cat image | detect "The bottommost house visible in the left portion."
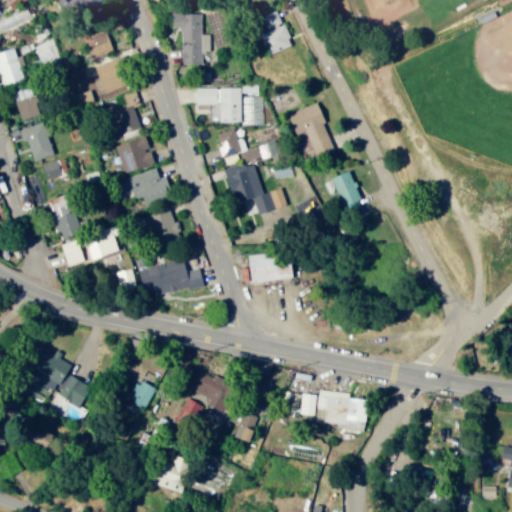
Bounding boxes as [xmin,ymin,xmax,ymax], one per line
[158,456,184,494]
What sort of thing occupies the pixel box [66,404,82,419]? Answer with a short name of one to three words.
swimming pool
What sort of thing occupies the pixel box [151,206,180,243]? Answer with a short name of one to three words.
house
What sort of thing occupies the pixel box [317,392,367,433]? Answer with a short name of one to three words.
building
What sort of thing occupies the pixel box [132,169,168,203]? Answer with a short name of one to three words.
house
